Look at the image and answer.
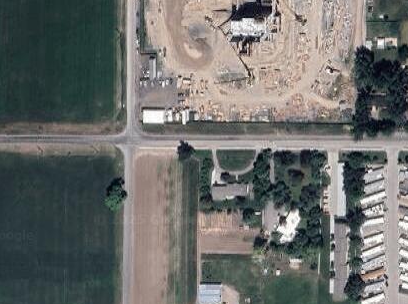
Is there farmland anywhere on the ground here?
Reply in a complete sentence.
Yes, there's farmland in this view.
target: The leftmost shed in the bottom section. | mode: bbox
[200,283,222,303]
